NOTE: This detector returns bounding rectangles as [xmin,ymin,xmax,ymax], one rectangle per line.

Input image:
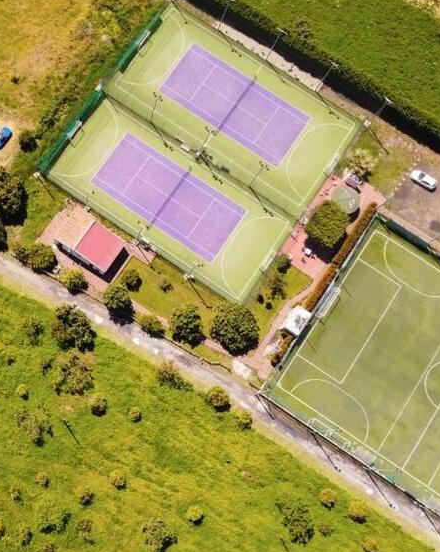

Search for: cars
[409,171,439,191]
[0,126,11,150]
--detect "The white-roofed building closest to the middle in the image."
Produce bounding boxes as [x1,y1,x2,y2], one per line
[280,305,313,337]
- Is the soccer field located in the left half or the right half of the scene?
right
